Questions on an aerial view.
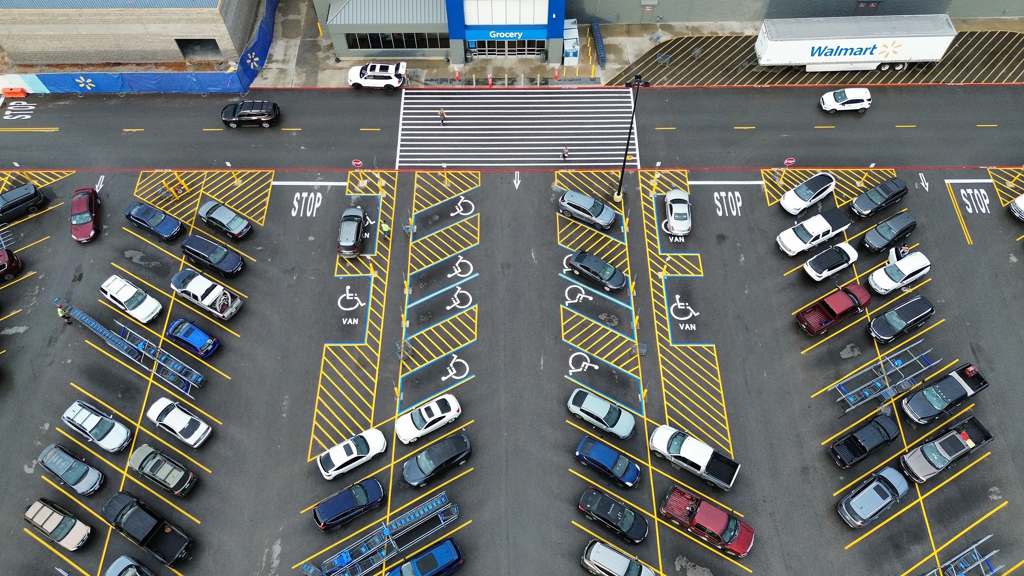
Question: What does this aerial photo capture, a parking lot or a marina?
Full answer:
What you see here is a parking lot.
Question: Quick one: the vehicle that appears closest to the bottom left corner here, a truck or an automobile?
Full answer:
What you see as the vehicle that appears closest to the bottom left corner is an automobile.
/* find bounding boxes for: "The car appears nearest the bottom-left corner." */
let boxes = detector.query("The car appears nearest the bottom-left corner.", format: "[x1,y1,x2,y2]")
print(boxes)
[22,495,99,555]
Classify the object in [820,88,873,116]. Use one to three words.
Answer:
car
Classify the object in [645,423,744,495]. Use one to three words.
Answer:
truck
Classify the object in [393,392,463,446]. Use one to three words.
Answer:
car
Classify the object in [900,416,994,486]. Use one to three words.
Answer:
truck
